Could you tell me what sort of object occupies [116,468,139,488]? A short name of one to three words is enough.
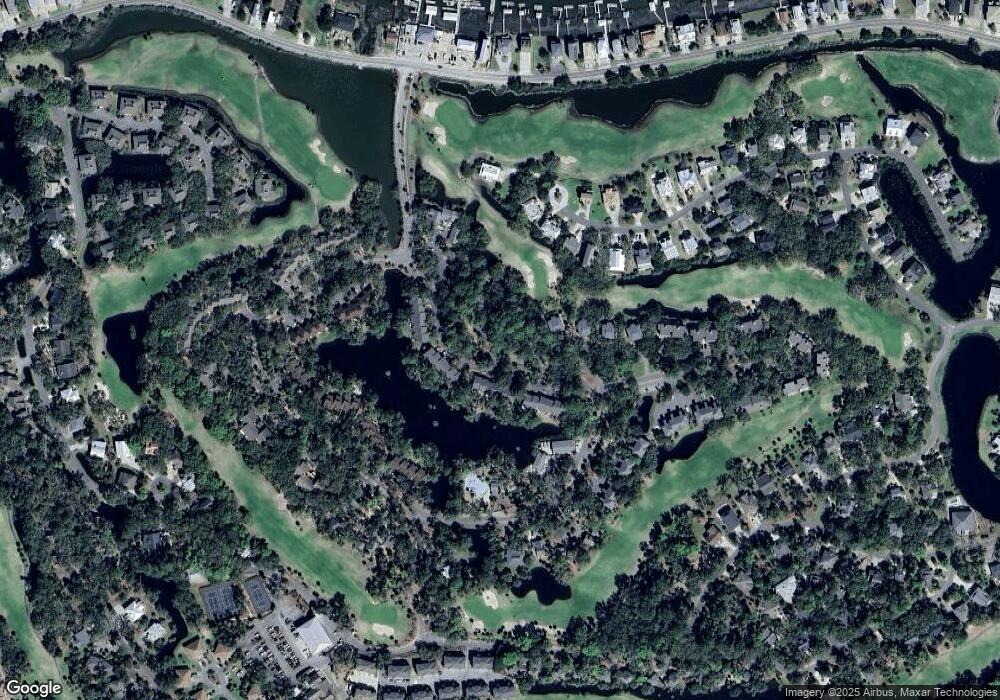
house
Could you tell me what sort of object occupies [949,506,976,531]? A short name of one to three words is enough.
house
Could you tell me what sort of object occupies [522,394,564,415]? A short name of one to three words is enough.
building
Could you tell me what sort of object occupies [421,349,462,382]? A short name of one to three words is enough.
building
